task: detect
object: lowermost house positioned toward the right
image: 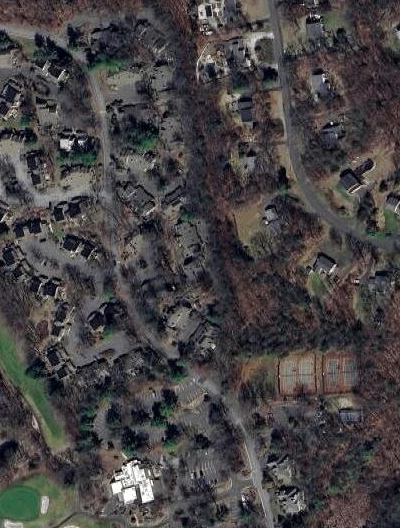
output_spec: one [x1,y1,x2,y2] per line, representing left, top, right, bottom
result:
[280,489,303,515]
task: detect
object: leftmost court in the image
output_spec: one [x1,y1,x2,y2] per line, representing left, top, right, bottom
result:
[280,352,298,394]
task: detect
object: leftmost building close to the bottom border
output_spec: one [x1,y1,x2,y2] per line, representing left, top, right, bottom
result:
[110,460,154,505]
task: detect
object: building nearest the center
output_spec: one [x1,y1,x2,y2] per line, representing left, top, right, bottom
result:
[173,221,204,260]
